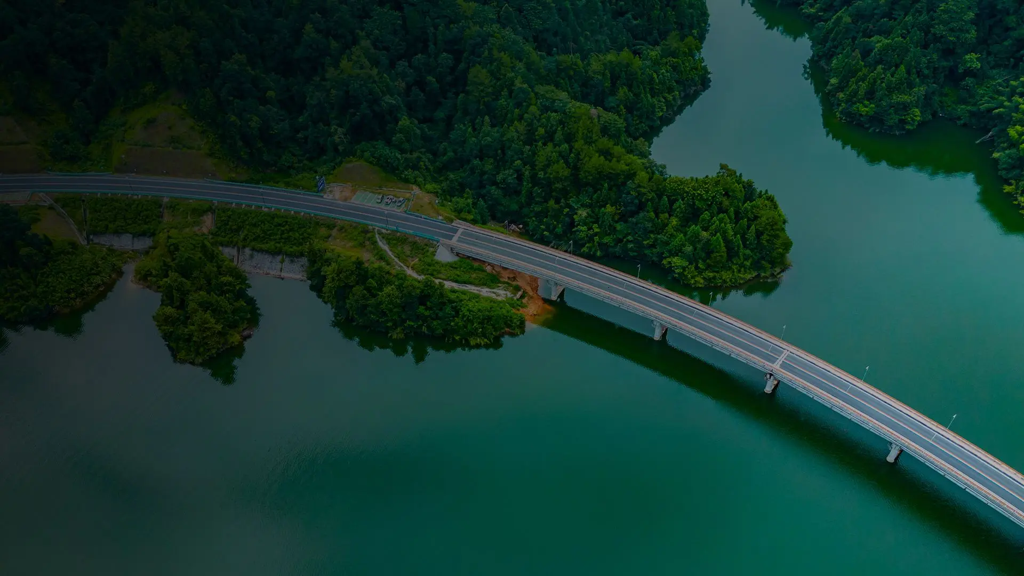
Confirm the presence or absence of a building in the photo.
No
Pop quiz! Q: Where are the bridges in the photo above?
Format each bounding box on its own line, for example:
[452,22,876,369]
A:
[425,218,1024,524]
